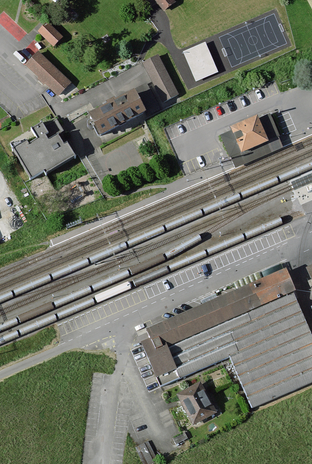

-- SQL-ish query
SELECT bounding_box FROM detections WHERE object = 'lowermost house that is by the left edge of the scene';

[10,114,76,180]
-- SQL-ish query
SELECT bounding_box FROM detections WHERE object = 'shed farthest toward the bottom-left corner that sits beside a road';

[136,441,158,464]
